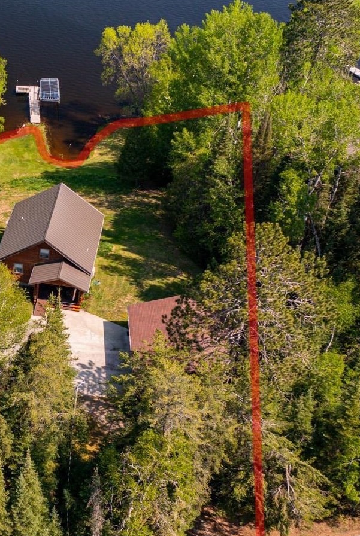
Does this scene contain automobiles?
No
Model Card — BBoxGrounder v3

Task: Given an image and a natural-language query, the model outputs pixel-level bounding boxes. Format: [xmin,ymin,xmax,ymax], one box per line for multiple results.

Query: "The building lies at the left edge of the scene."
[0,182,104,323]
